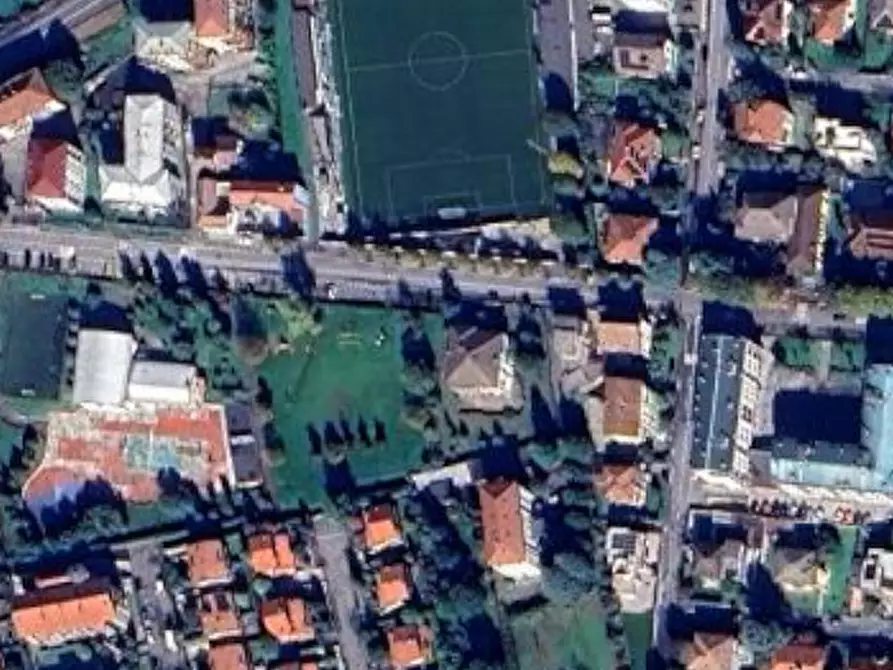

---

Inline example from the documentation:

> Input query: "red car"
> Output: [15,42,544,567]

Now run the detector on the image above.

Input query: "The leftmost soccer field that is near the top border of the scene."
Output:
[331,0,554,233]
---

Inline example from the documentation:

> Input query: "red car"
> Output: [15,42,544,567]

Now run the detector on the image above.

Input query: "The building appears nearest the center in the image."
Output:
[445,332,521,413]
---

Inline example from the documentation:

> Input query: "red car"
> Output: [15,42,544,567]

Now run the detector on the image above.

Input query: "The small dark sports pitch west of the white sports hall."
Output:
[0,298,67,398]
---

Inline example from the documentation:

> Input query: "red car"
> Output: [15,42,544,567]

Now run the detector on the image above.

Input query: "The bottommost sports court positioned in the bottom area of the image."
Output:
[22,403,236,530]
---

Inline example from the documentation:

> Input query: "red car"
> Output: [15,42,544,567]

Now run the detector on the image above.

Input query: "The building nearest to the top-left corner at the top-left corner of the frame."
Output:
[0,68,75,146]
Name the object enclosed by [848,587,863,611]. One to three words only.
shed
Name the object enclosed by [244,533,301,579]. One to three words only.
house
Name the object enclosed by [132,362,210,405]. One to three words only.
building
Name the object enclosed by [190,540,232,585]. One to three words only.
house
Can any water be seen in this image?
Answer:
No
